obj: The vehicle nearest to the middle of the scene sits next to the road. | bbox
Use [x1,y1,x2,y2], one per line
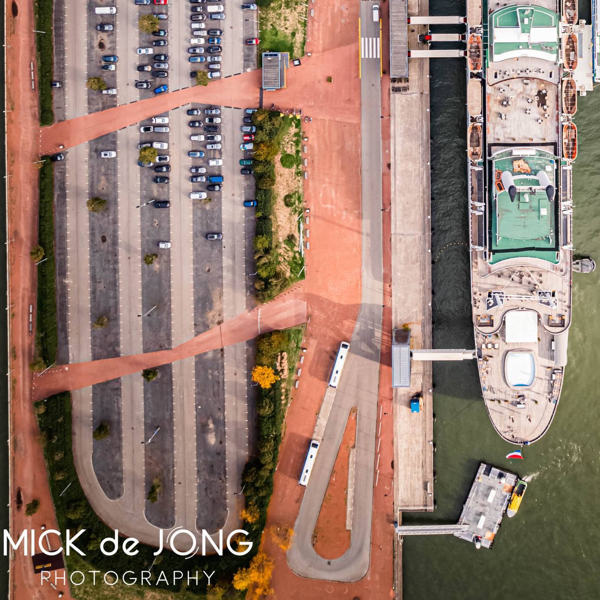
[329,340,349,387]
